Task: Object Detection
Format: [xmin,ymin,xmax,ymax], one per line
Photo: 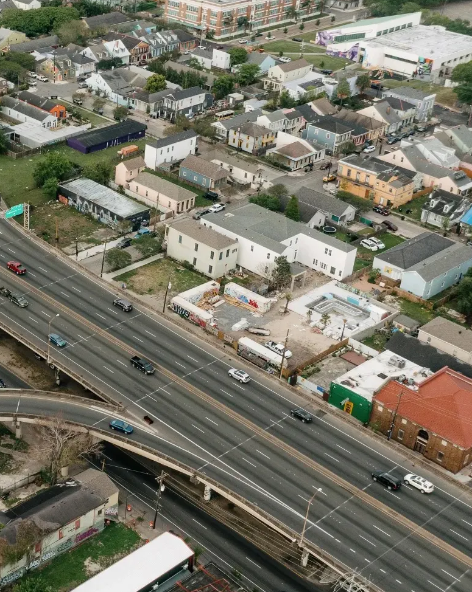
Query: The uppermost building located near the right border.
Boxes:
[307,0,472,84]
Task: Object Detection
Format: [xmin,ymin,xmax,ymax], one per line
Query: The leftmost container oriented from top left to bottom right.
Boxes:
[170,298,209,334]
